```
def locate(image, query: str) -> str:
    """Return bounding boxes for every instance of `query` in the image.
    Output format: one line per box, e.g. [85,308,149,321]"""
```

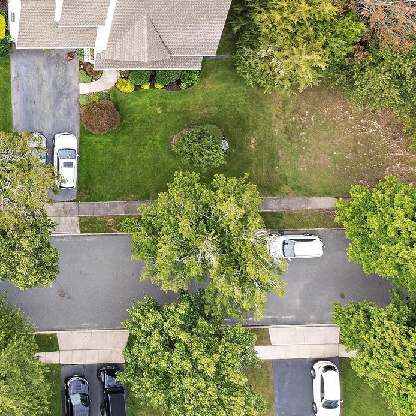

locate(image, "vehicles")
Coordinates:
[52,132,80,188]
[265,230,325,260]
[100,363,129,416]
[308,358,340,416]
[61,372,92,416]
